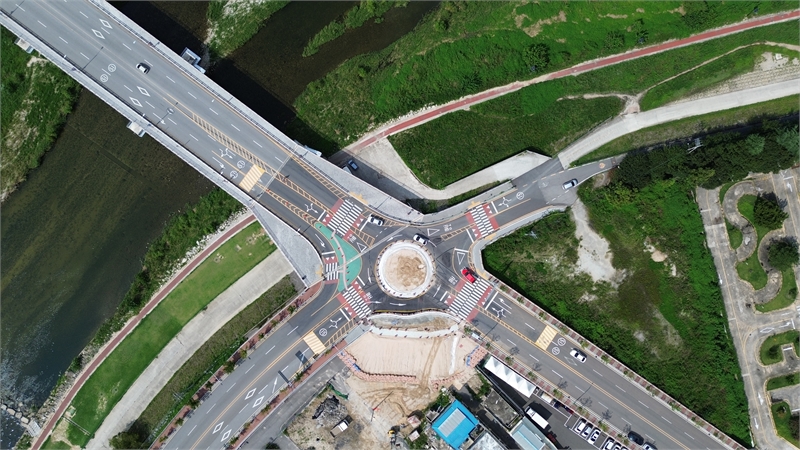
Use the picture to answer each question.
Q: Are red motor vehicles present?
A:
Yes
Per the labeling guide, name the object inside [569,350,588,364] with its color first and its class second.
white car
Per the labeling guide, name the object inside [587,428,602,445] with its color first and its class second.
white car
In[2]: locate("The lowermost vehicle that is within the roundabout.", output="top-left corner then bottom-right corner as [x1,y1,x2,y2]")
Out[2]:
[459,266,478,285]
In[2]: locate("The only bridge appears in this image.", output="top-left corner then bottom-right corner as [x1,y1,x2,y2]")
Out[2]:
[0,0,352,209]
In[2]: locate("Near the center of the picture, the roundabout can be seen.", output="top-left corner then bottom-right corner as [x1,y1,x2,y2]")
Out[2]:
[255,152,567,322]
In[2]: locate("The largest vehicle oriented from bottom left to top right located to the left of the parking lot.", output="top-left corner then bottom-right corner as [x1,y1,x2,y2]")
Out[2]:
[330,420,350,438]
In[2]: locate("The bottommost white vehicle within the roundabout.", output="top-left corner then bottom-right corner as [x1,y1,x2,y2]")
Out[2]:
[412,234,428,247]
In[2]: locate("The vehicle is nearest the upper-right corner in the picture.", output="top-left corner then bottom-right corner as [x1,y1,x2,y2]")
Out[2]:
[561,178,579,191]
